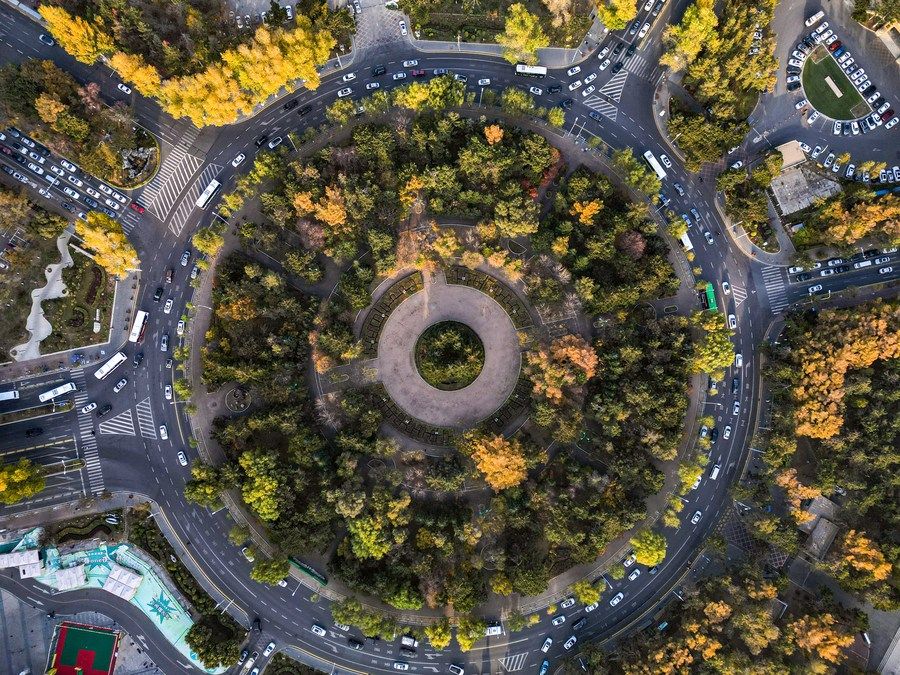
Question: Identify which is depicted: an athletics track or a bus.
bus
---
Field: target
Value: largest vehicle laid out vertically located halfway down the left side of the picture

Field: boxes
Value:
[133,308,149,344]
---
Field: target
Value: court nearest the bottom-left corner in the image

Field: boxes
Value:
[51,622,120,675]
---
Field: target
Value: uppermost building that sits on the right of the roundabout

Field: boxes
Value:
[867,22,900,79]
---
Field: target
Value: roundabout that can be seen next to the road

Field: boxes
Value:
[125,52,757,675]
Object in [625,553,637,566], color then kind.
white vehicle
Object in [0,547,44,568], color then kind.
white tent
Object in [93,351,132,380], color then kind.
white bus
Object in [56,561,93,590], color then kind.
white tent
